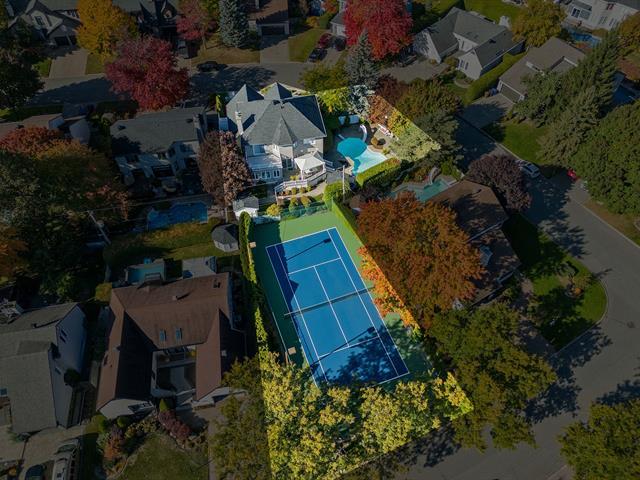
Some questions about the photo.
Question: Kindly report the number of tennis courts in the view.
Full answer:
I count 1 tennis court.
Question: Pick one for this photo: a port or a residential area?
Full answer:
It's a residential area.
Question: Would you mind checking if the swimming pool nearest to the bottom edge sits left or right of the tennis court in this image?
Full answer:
It is on the left side of the tennis court that the swimming pool nearest to the bottom edge is positioned.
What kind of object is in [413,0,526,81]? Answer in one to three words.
house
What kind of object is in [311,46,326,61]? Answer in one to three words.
car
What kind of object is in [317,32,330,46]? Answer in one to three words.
vehicle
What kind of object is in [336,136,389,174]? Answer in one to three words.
swimming pool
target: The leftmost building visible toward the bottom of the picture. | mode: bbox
[0,304,92,436]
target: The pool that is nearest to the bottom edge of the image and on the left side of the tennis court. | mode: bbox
[126,261,168,286]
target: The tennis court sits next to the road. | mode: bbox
[249,199,453,460]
